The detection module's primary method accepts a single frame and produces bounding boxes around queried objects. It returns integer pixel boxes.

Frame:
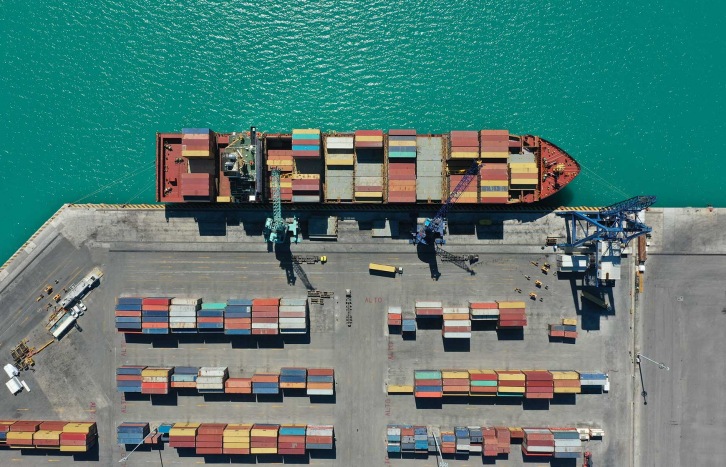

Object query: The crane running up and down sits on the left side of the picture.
[265,167,301,247]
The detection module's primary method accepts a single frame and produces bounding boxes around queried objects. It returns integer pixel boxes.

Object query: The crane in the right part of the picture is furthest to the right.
[555,195,659,290]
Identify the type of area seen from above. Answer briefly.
port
